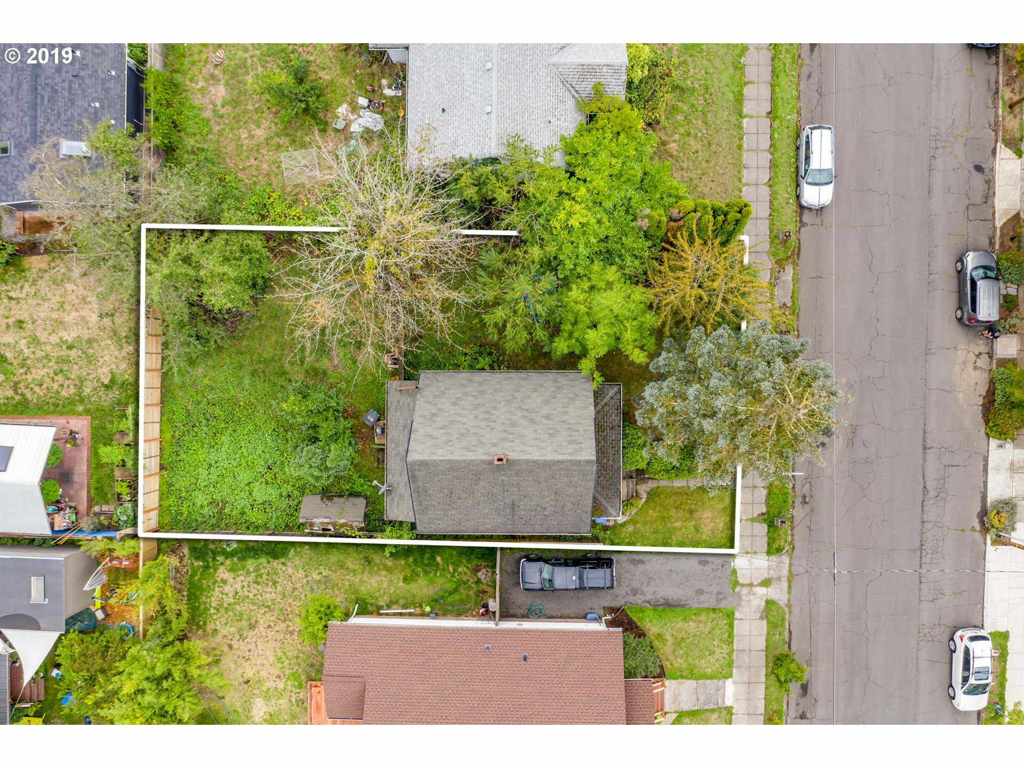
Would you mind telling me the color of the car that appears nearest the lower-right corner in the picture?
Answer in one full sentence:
In this view, the car that appears nearest the lower-right corner is white.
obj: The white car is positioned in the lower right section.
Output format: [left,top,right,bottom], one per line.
[946,628,996,712]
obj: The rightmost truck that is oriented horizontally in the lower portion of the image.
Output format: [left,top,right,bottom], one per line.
[519,553,614,595]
